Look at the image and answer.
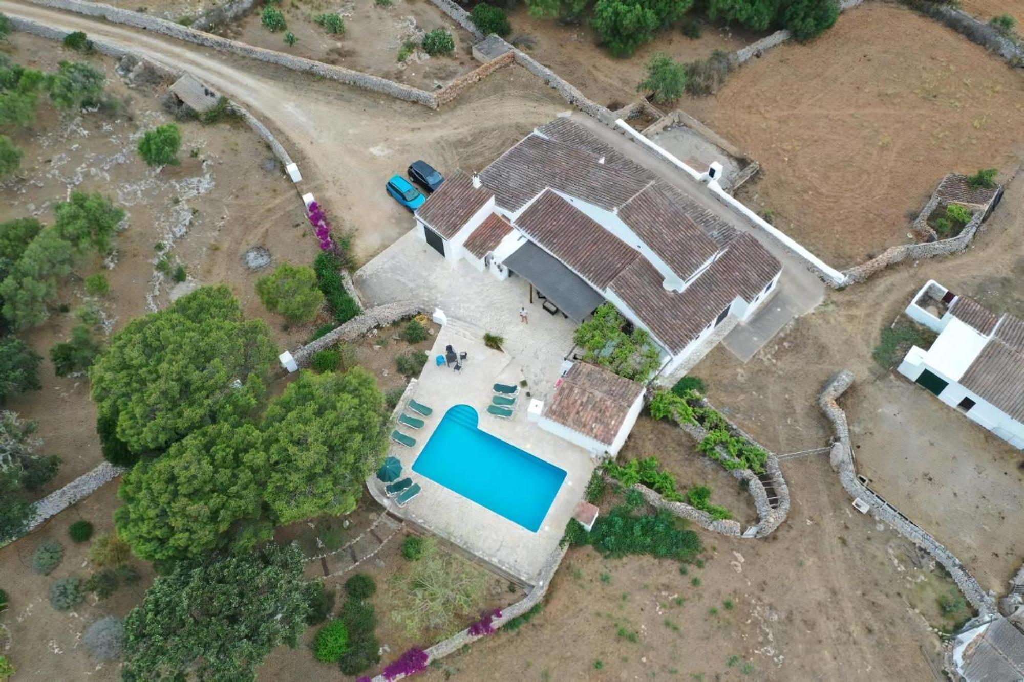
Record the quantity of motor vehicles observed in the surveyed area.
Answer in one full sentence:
Looking from above, you can make out 2 motor vehicles.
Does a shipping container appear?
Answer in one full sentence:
No, the frame has no shipping container in it.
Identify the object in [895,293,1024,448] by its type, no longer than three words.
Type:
building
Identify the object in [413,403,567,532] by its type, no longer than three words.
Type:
swimming pool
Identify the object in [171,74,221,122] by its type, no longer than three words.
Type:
shed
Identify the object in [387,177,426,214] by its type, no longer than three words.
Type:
car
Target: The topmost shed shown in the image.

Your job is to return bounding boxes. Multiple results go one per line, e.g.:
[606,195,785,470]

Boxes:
[473,35,513,66]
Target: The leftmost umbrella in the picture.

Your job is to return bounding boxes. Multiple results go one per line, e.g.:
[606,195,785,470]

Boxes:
[377,458,406,485]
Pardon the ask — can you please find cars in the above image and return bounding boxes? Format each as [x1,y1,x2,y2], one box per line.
[408,162,444,197]
[387,177,426,214]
